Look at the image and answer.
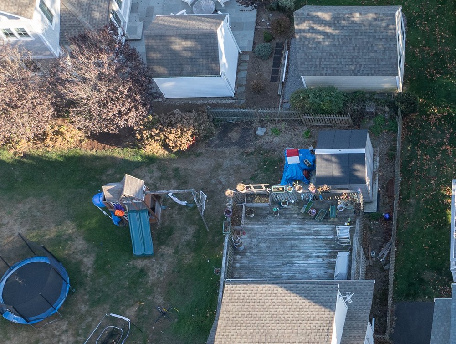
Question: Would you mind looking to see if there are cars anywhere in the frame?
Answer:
No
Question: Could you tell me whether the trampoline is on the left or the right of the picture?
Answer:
left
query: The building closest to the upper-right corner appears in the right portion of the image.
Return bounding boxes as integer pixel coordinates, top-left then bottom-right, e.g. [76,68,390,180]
[295,0,404,89]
